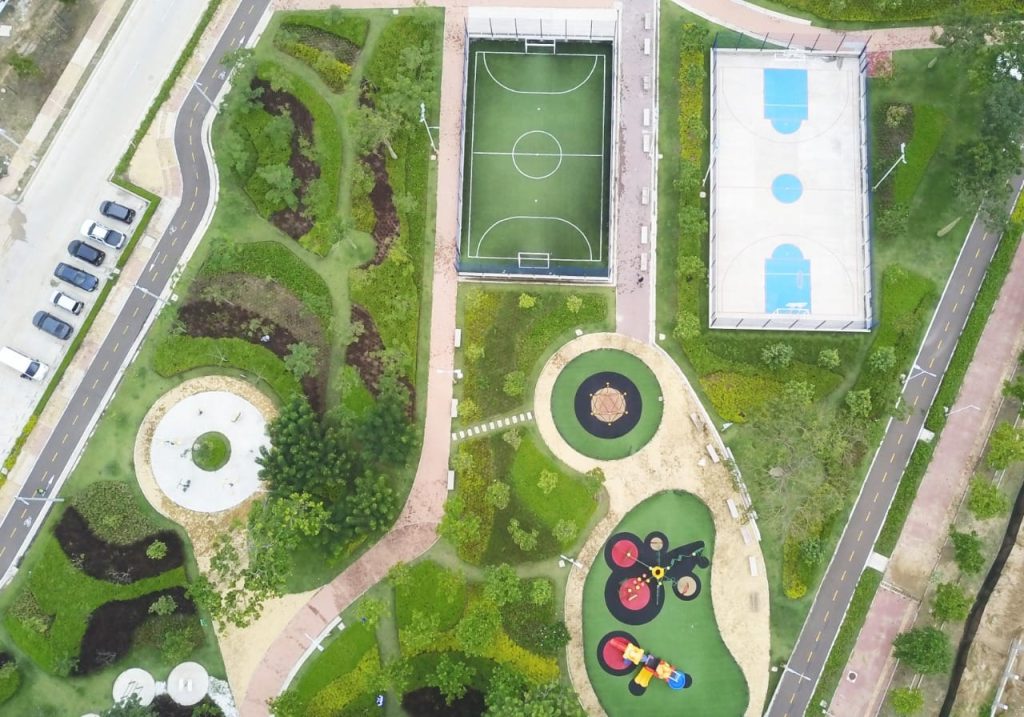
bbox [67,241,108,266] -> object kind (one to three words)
car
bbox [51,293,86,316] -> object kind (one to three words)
car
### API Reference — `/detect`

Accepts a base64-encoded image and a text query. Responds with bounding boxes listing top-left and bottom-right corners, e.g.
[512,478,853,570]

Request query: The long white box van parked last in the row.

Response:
[0,344,48,379]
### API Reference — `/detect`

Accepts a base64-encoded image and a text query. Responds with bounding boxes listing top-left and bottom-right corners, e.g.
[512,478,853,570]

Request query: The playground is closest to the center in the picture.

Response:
[551,348,664,461]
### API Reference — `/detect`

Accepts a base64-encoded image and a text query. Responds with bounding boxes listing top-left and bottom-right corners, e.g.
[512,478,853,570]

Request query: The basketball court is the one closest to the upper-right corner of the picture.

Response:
[709,48,870,329]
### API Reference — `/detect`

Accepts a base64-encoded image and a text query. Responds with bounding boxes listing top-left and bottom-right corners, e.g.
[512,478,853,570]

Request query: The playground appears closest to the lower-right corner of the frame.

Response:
[583,489,750,717]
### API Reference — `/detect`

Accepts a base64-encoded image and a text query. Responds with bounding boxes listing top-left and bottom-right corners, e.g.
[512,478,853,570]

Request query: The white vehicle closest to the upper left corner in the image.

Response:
[81,222,128,249]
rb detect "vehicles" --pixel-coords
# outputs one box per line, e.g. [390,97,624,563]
[81,222,128,249]
[67,241,108,266]
[0,344,48,379]
[32,312,76,339]
[53,263,100,291]
[100,201,138,225]
[51,293,86,316]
